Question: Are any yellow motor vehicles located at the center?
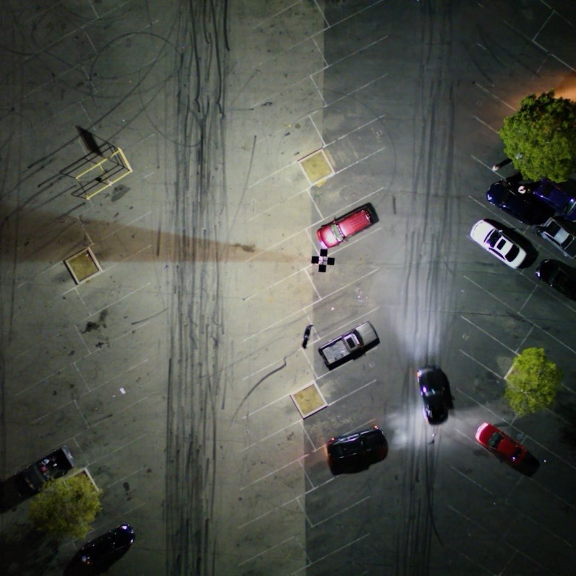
No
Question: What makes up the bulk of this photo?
paved ground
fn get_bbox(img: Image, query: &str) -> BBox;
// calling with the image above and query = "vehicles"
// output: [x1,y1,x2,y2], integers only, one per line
[532,176,576,221]
[327,428,387,465]
[535,219,576,259]
[318,321,381,370]
[417,365,448,425]
[317,206,374,249]
[485,180,549,227]
[470,220,527,269]
[2,449,74,499]
[476,424,534,472]
[534,258,576,300]
[78,525,137,568]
